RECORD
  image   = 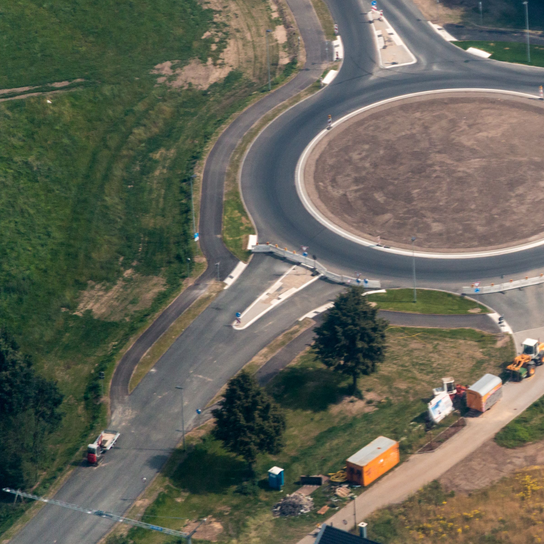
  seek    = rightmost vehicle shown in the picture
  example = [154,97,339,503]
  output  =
[502,334,544,387]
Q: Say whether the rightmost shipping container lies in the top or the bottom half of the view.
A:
bottom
